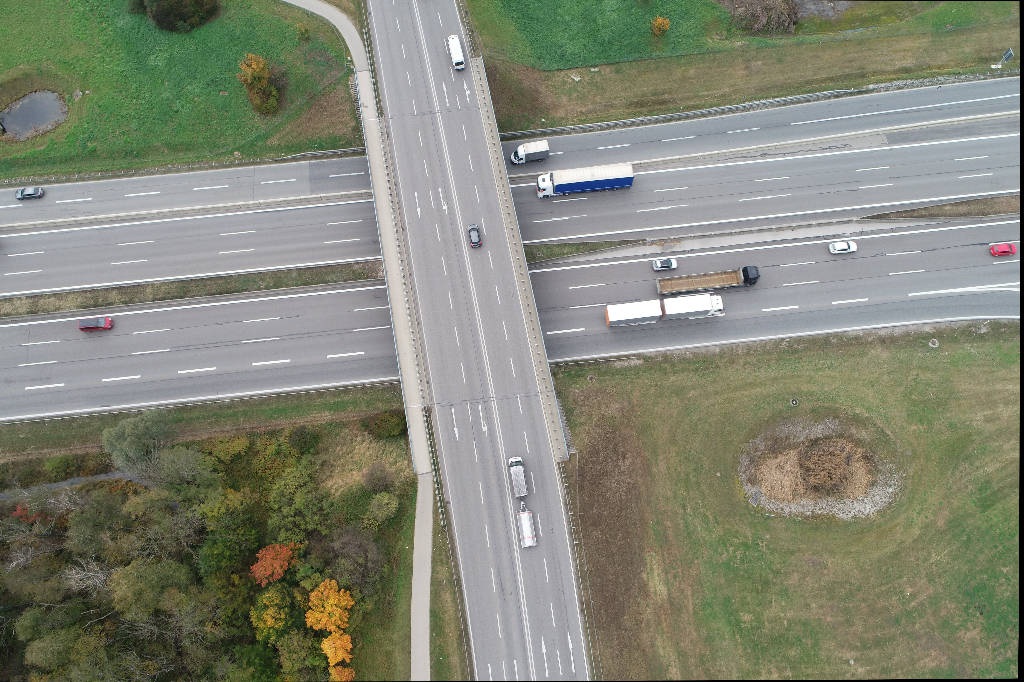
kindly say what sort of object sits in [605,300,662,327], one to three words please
trailer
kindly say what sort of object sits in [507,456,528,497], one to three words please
truck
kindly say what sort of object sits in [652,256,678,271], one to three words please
car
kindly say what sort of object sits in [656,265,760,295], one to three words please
truck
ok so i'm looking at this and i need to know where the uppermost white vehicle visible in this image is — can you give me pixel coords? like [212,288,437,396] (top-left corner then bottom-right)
[448,35,466,69]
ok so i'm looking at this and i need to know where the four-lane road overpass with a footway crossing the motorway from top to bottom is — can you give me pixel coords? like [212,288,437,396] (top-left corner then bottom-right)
[354,52,568,474]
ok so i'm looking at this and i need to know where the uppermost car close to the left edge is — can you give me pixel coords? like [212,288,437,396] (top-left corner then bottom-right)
[15,186,43,199]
